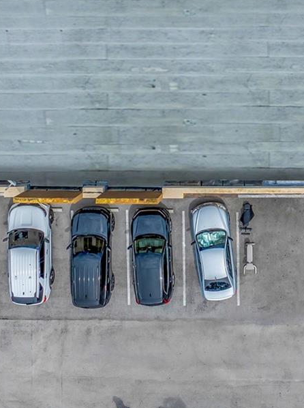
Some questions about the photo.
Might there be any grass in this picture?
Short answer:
No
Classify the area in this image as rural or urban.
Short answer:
urban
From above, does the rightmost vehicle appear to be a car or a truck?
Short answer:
car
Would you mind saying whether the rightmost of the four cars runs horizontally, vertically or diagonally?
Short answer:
vertically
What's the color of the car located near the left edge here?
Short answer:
white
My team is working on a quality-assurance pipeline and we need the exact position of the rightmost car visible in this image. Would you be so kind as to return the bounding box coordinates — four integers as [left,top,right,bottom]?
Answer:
[189,201,238,303]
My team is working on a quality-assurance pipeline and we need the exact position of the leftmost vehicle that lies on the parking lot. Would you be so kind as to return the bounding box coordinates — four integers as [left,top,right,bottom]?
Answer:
[1,206,57,306]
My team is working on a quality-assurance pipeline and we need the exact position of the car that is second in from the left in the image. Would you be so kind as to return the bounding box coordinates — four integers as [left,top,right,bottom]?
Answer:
[63,205,115,309]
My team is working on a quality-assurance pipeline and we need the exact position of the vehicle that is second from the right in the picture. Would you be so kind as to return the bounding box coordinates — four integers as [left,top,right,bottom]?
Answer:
[125,207,174,307]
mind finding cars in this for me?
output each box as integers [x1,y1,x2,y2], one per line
[125,207,174,307]
[1,206,57,306]
[189,201,238,303]
[63,205,115,309]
